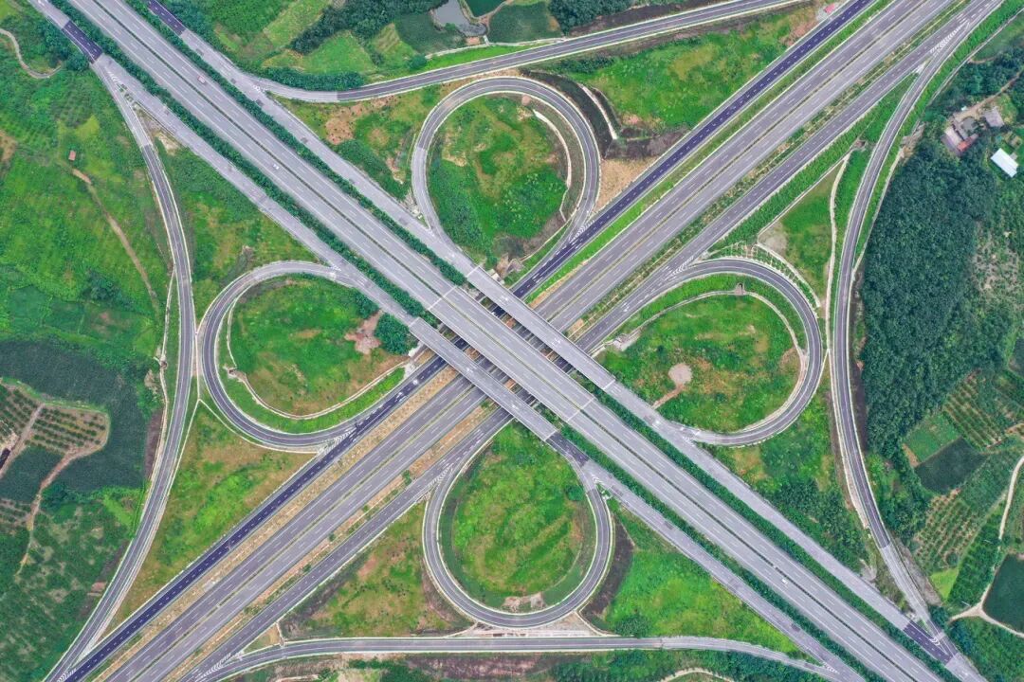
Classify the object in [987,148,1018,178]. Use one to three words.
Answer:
shed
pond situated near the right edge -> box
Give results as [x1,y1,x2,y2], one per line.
[984,553,1024,632]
